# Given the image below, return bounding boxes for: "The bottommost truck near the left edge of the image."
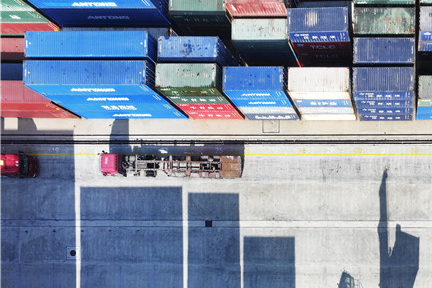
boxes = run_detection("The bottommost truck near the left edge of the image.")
[0,154,45,180]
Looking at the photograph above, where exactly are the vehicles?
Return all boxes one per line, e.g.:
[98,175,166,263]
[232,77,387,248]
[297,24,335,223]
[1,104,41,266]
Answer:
[0,154,45,180]
[102,151,243,179]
